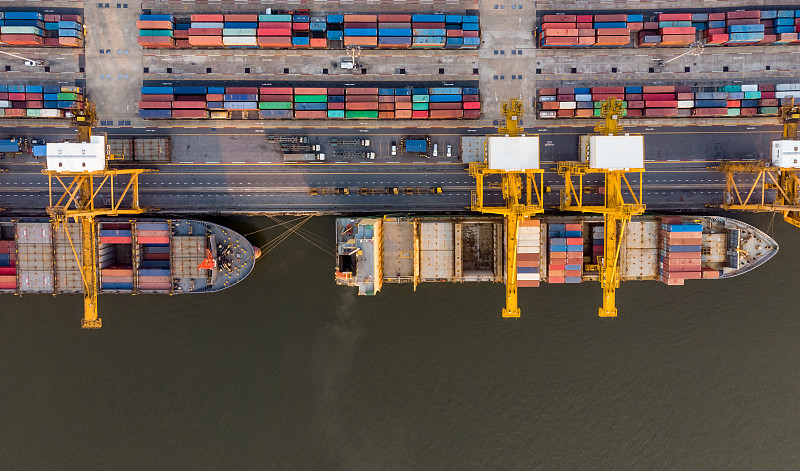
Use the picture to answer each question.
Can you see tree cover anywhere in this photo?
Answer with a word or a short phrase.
No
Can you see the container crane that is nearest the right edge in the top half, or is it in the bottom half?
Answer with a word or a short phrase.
top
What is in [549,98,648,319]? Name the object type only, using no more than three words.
container crane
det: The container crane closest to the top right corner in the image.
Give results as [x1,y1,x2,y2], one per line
[702,95,800,231]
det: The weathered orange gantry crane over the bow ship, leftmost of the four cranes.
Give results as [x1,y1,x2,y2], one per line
[48,99,160,330]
